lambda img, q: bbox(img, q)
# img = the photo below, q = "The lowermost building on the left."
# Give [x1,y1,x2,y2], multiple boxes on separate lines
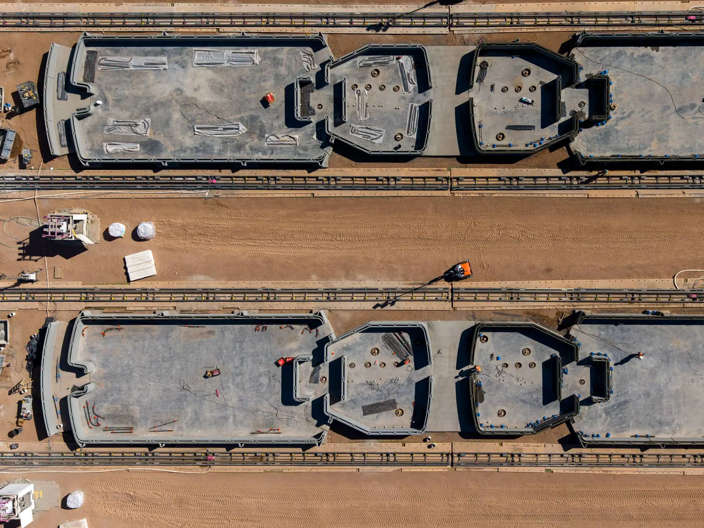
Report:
[40,311,434,445]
